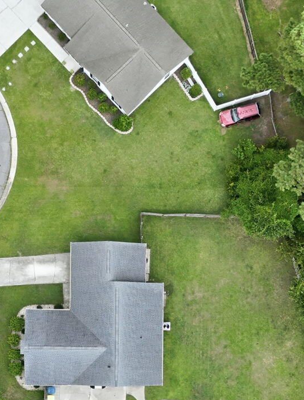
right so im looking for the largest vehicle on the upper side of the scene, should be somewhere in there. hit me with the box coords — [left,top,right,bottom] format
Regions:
[218,102,261,128]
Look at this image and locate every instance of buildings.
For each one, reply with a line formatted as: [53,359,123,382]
[34,0,193,118]
[21,240,165,389]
